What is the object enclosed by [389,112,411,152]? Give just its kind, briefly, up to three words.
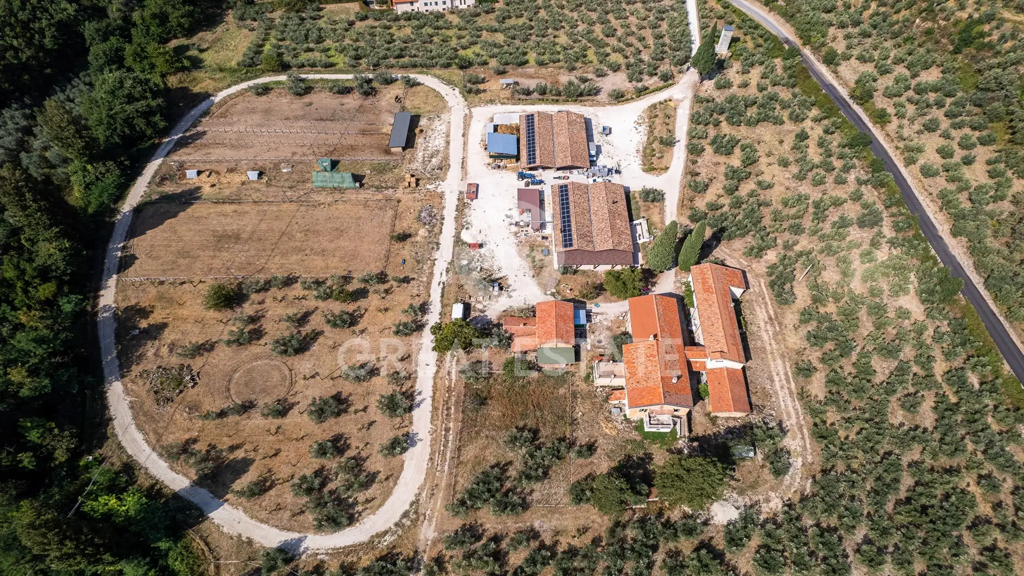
building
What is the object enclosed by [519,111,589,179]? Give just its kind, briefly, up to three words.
barn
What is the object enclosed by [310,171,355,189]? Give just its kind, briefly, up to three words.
greenhouse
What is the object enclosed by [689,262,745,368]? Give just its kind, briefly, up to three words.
house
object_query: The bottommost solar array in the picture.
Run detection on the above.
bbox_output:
[557,184,571,247]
